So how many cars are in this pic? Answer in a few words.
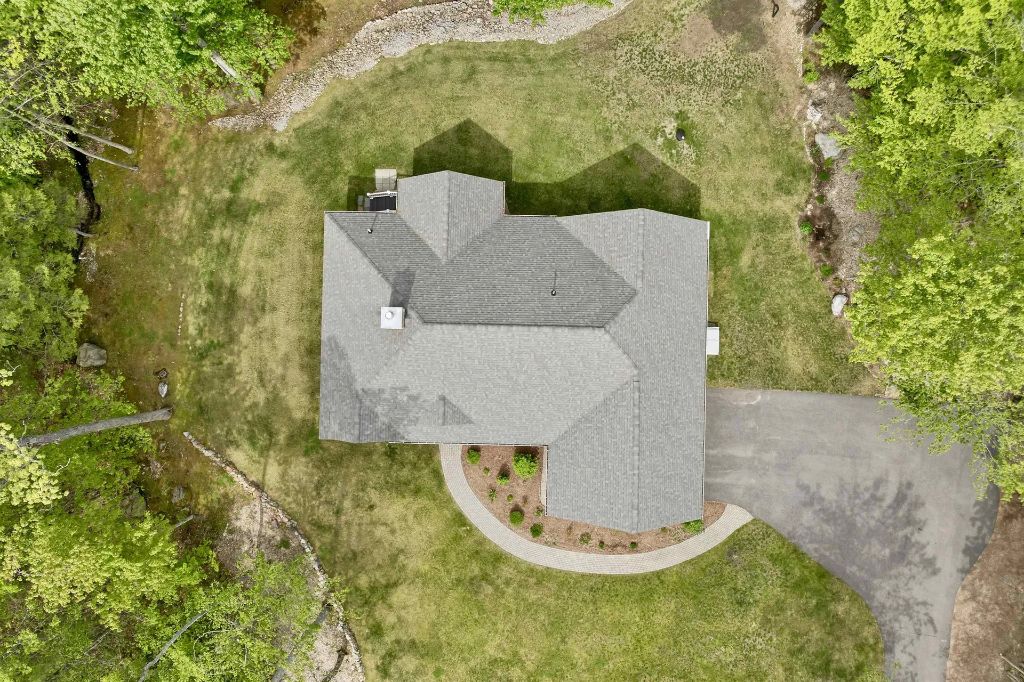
none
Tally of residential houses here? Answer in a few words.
1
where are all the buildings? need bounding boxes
[319,171,719,533]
